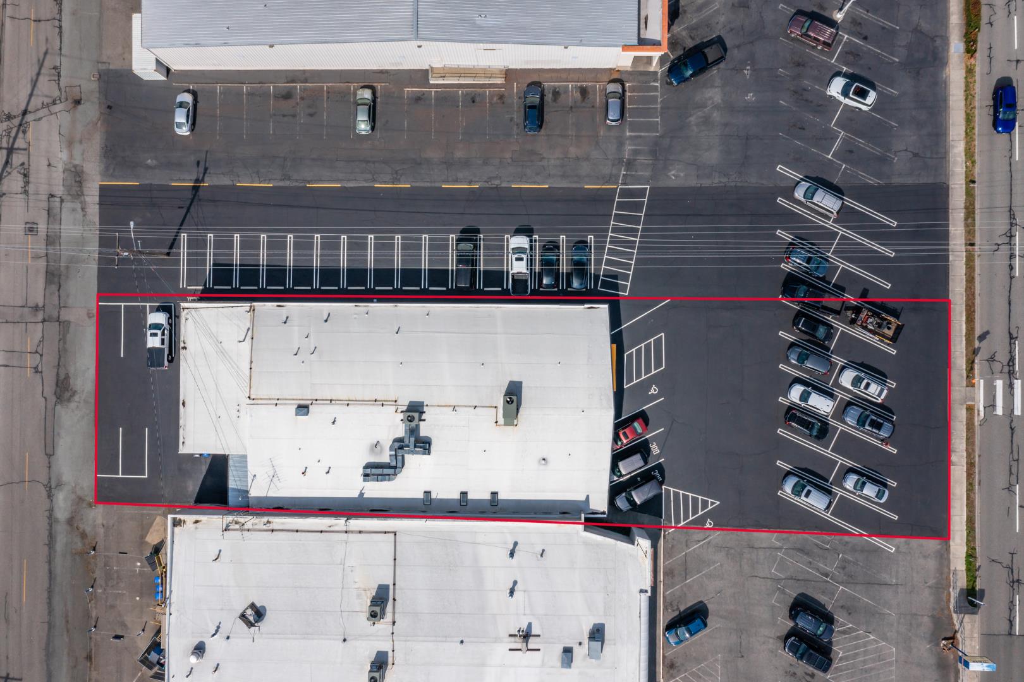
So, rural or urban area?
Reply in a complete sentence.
It looks urban.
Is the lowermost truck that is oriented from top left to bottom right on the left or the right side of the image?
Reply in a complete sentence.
You can find the lowermost truck that is oriented from top left to bottom right on the right side of the picture.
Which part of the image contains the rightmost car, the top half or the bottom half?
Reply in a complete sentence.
It is in the top half that the rightmost car appears.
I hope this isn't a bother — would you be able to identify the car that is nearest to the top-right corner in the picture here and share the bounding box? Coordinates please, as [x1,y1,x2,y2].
[990,85,1019,133]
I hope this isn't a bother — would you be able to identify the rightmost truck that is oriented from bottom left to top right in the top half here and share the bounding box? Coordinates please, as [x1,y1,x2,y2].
[668,38,726,84]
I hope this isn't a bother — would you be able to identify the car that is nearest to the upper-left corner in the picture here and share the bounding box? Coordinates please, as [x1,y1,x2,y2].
[172,92,197,137]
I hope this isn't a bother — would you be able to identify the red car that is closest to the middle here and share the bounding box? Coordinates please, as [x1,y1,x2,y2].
[612,419,651,451]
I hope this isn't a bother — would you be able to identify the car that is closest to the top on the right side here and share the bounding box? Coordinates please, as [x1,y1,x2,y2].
[787,14,841,48]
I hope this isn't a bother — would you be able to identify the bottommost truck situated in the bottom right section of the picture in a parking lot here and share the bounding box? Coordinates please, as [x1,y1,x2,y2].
[781,634,837,678]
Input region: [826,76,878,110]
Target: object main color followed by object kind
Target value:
white car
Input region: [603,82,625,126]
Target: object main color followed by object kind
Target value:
gray car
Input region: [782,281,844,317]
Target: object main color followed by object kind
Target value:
black truck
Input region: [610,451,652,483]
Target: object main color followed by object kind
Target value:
gray car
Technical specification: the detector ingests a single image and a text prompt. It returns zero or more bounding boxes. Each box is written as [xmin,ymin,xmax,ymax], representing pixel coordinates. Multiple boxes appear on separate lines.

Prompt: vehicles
[782,408,829,440]
[782,474,834,512]
[789,312,835,343]
[455,234,479,290]
[787,384,836,417]
[664,611,710,643]
[826,76,878,110]
[990,85,1019,133]
[353,88,375,136]
[612,419,651,451]
[613,477,665,514]
[782,243,827,275]
[787,14,841,48]
[569,242,591,290]
[508,235,532,297]
[842,407,896,441]
[786,606,835,642]
[610,451,652,483]
[838,368,890,402]
[781,634,837,678]
[172,92,197,137]
[146,310,174,370]
[841,471,890,504]
[539,242,561,290]
[785,344,834,377]
[521,83,544,134]
[782,281,844,317]
[603,82,625,126]
[793,182,845,216]
[668,38,726,84]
